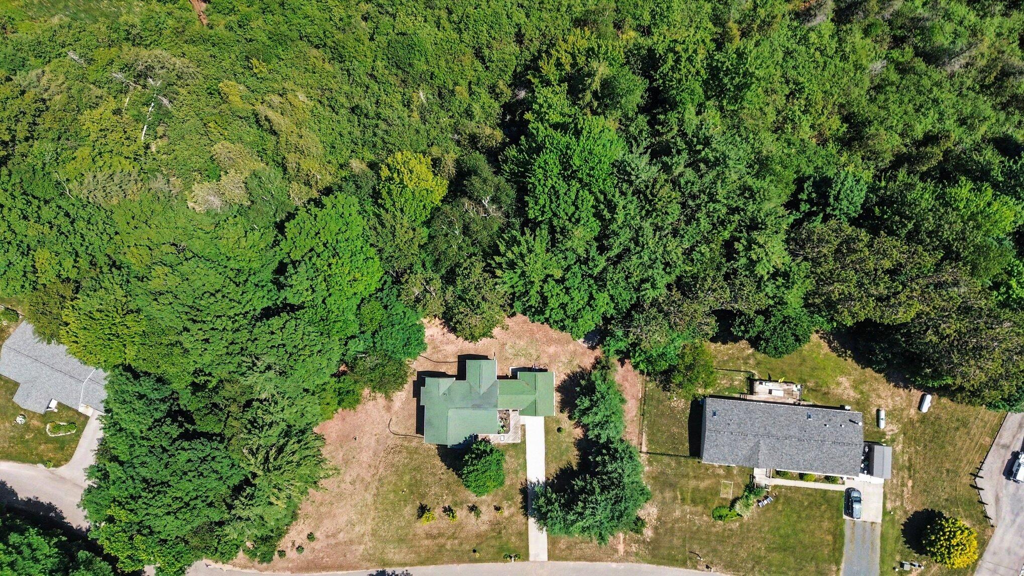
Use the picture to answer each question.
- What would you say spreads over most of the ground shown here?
trees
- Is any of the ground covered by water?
No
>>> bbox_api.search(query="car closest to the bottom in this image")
[844,487,862,519]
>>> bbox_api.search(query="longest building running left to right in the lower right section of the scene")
[699,397,866,477]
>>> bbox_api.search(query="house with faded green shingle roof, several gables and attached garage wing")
[421,359,555,447]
